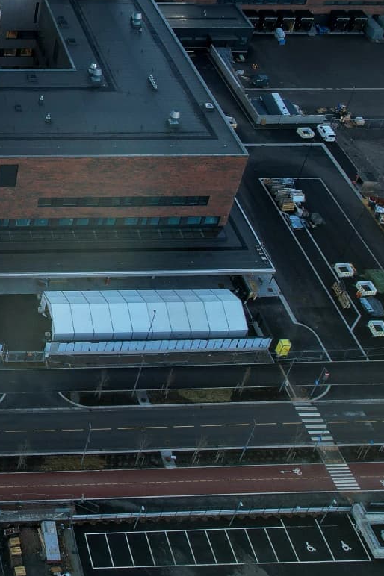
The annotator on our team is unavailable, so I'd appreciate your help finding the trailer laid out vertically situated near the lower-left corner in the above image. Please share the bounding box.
[44,519,65,564]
